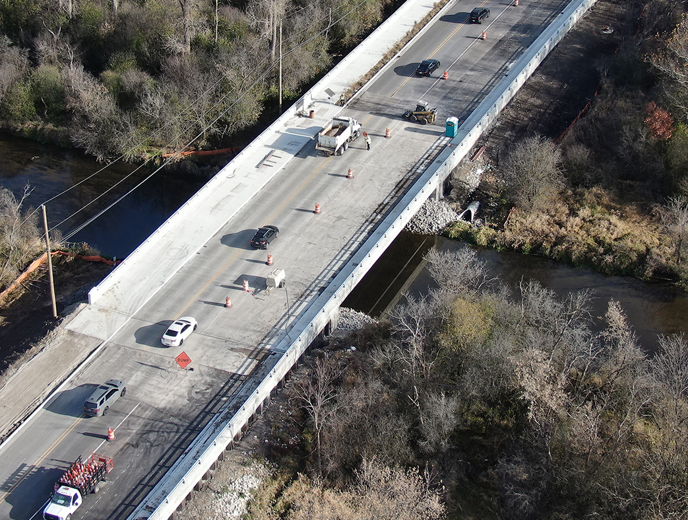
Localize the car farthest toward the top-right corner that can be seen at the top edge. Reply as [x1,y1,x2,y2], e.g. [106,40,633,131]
[466,5,491,24]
